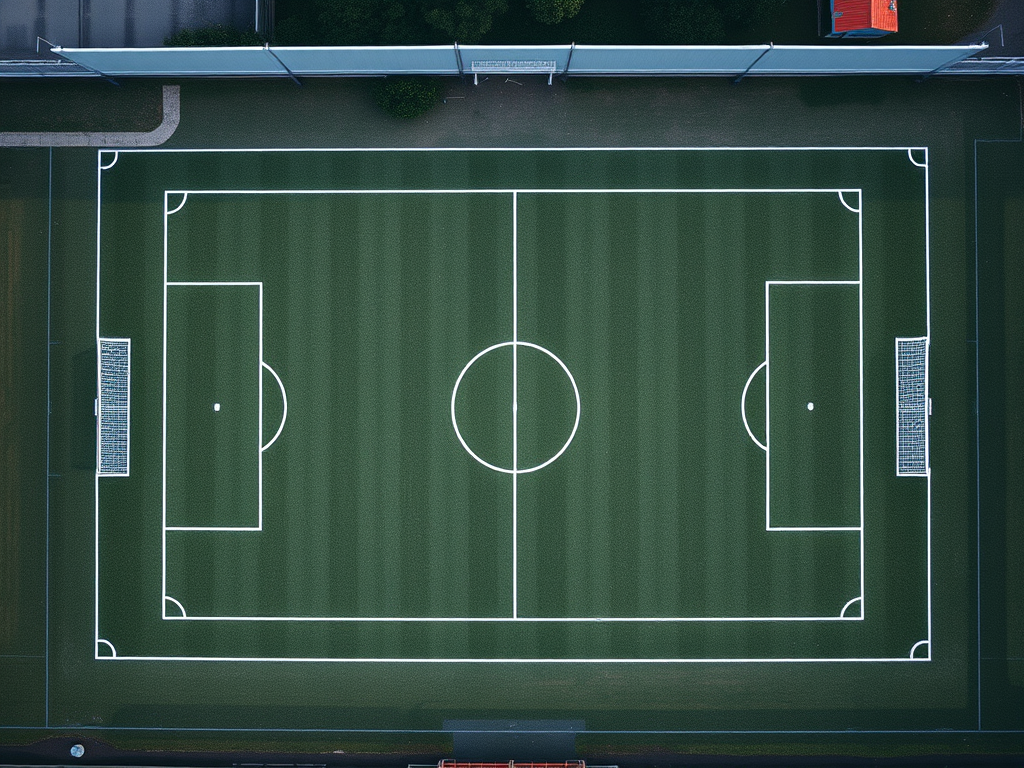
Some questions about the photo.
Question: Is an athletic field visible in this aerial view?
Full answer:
Yes, this view includes an athletic field.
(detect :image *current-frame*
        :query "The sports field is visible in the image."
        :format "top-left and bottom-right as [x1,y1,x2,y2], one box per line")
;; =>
[163,188,864,621]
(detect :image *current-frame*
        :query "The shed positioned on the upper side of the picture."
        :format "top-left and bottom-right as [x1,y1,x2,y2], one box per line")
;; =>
[825,0,897,40]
